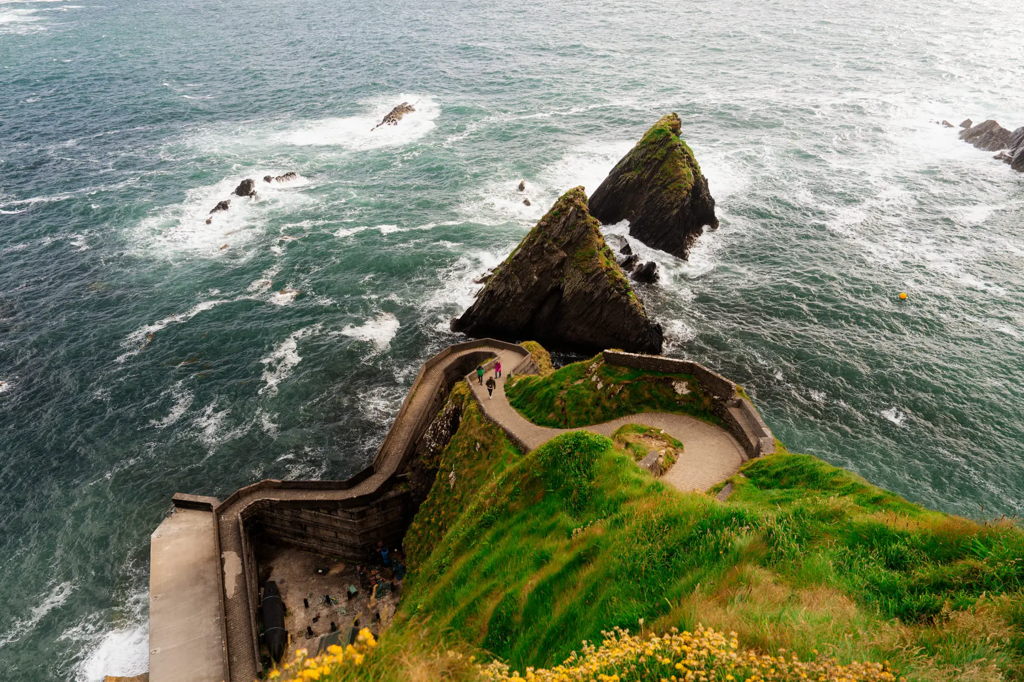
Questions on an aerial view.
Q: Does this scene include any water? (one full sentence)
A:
Yes, there is water in the image.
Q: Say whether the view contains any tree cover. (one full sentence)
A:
No, the picture contains no tree cover.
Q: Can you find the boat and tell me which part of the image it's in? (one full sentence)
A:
The boat appears toward the bottom left of the photo.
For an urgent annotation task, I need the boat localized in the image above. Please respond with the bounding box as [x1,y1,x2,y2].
[266,584,289,664]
